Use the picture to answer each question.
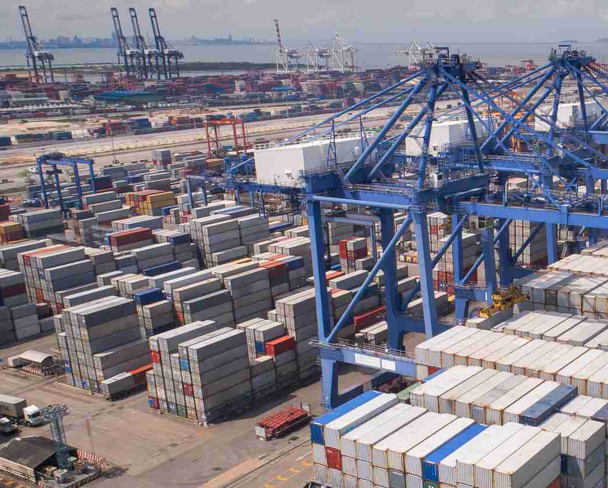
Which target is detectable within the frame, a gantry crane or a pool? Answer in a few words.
gantry crane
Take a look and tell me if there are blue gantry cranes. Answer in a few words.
Yes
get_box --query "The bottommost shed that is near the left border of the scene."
[0,433,76,485]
